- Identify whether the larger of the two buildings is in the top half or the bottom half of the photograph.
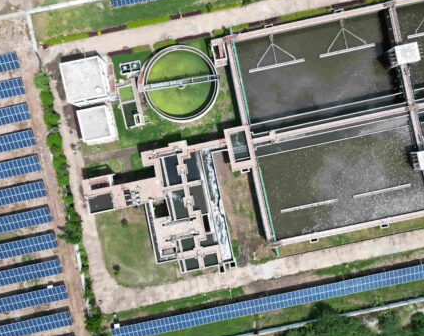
top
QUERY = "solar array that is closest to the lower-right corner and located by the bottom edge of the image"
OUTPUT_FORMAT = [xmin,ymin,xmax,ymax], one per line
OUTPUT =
[112,266,424,336]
